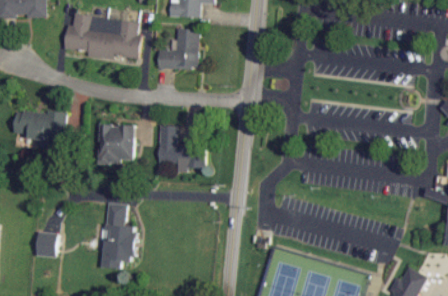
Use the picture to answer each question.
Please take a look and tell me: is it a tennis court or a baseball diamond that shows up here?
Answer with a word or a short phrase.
tennis court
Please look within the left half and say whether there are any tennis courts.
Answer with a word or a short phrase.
No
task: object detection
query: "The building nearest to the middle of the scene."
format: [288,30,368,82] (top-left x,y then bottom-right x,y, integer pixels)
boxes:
[159,126,206,174]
